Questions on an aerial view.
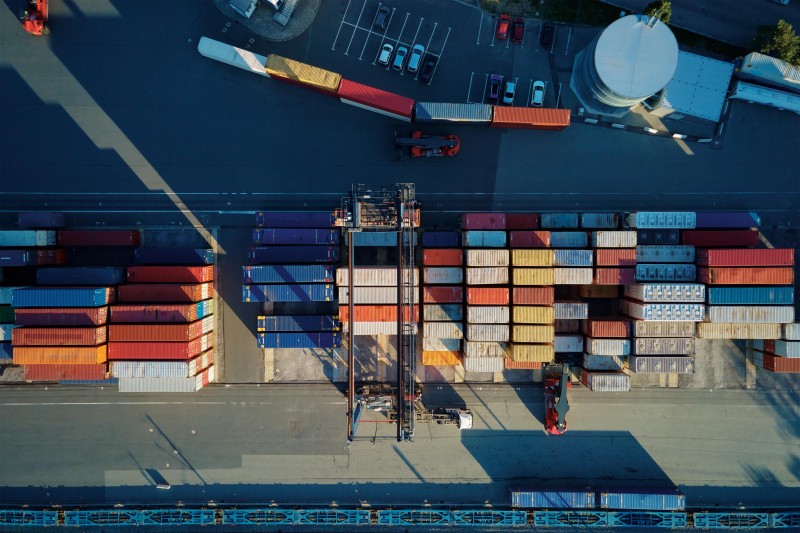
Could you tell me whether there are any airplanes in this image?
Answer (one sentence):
No, the photo shows no airplane.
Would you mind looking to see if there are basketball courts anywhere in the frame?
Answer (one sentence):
No, there's no basketball court here.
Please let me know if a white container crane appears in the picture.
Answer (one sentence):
No, there is no white container crane in the image.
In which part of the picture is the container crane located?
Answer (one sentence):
The container crane is located in the center region of the scene.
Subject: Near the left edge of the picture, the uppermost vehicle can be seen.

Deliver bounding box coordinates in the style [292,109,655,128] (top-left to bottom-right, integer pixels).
[21,0,55,38]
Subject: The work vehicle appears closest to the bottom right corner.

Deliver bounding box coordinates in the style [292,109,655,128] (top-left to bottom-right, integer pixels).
[542,367,573,435]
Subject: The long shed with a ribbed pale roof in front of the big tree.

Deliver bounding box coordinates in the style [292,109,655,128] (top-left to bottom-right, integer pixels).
[734,52,800,95]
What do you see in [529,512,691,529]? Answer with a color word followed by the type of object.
blue rail car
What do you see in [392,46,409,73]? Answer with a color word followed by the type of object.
blue car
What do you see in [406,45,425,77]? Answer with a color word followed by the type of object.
blue car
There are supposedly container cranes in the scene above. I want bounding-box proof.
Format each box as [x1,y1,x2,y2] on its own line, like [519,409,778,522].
[334,174,423,442]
